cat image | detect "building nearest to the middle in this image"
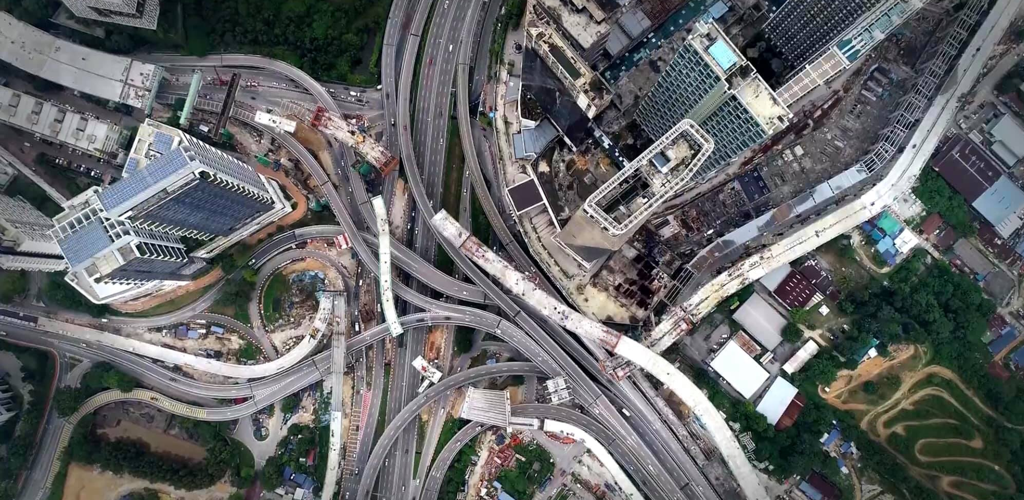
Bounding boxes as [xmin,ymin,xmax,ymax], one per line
[507,178,545,216]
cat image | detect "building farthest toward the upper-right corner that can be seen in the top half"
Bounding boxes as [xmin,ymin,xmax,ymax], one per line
[992,85,1024,117]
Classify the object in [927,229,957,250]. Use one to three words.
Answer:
house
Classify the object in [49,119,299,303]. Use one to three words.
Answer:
building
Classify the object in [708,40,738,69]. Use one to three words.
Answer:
swimming pool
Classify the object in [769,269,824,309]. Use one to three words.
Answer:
shed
